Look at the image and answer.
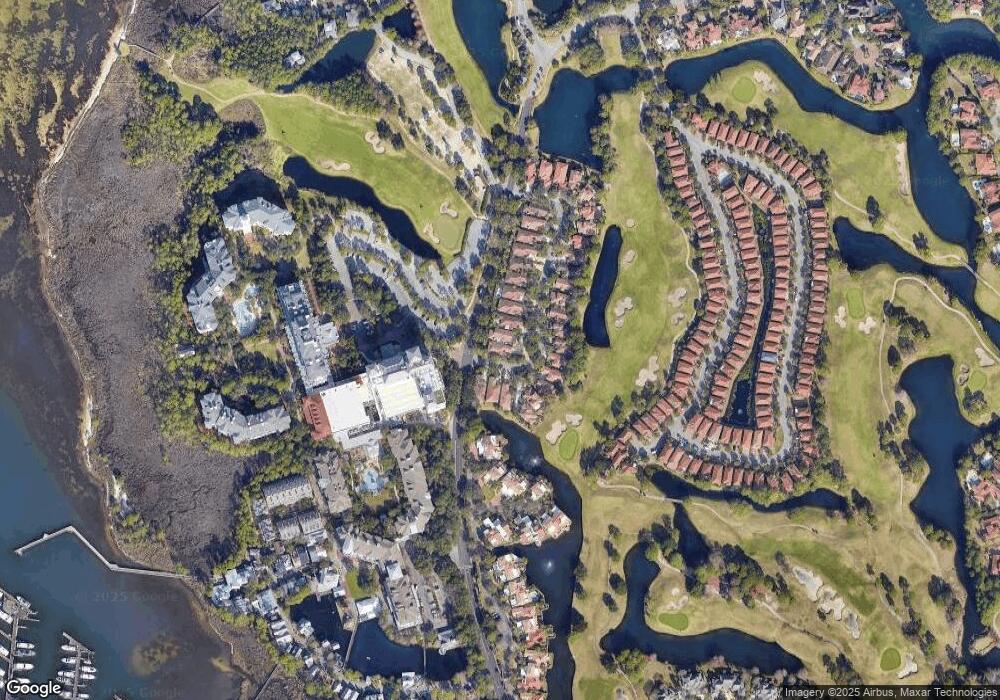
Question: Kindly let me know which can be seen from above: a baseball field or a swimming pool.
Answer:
swimming pool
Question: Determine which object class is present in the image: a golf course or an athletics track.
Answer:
golf course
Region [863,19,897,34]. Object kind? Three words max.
house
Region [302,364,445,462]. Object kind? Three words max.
building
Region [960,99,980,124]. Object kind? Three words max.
house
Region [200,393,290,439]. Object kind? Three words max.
building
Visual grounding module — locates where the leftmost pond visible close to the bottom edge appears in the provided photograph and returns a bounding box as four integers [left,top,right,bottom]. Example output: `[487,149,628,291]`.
[292,595,470,680]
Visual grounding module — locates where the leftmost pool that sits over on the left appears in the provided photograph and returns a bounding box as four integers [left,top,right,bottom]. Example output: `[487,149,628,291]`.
[234,284,260,334]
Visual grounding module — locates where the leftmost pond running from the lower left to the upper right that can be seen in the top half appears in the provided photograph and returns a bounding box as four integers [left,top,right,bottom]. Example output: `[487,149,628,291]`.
[277,28,376,94]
